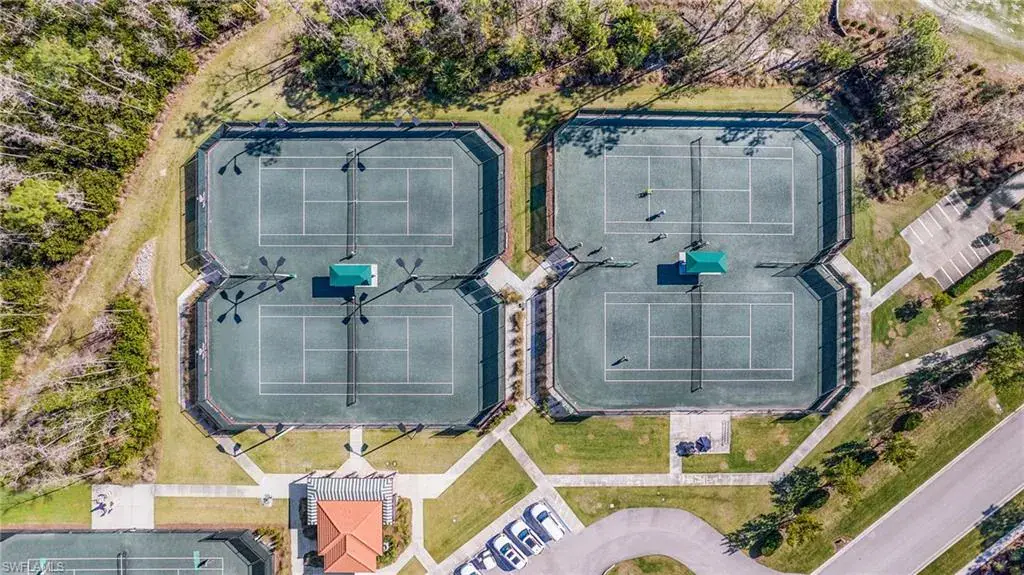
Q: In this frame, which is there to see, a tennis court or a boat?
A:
tennis court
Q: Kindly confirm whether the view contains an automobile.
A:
Yes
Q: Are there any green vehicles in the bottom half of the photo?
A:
No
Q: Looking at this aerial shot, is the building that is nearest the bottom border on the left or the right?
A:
left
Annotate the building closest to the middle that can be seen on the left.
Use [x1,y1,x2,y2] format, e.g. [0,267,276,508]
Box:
[329,264,378,287]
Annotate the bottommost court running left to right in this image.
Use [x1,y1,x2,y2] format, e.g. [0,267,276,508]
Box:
[0,528,275,575]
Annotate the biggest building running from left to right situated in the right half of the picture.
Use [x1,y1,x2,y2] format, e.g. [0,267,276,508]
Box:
[679,251,728,275]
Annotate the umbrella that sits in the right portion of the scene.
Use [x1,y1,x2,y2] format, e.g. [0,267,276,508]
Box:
[695,436,710,451]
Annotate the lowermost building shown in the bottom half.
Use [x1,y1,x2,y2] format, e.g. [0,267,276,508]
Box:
[317,500,383,574]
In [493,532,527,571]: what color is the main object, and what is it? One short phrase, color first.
white car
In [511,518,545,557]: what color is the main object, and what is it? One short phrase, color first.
white car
